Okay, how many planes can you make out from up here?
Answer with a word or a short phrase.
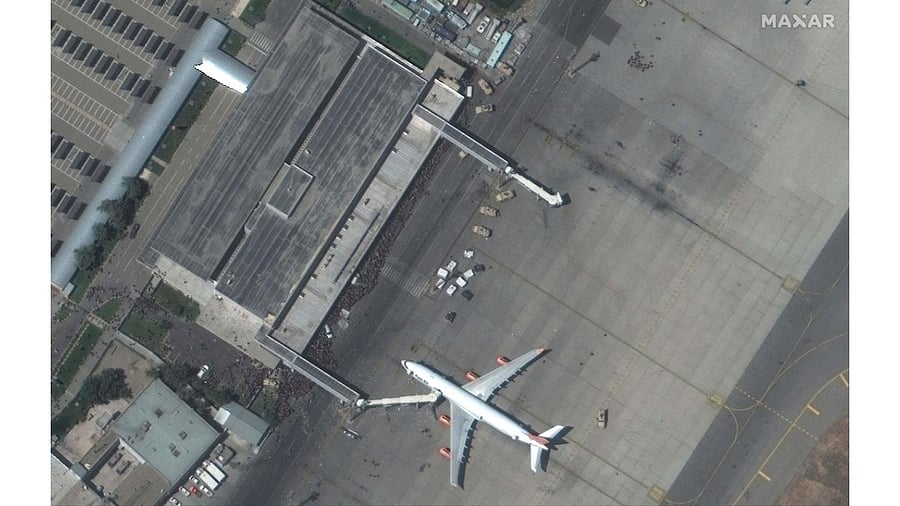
1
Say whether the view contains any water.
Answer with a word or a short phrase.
No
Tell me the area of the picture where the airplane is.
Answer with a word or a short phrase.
bottom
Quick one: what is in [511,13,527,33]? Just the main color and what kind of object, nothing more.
gray vehicle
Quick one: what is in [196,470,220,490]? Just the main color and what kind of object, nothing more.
white vehicle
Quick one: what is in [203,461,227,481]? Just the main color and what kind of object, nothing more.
white vehicle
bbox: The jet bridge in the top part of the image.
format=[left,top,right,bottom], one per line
[504,165,564,207]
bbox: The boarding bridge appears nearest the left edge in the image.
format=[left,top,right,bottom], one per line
[356,388,446,411]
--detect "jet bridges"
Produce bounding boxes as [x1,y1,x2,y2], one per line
[356,388,446,411]
[504,165,564,207]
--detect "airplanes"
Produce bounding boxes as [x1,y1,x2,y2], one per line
[401,349,562,487]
